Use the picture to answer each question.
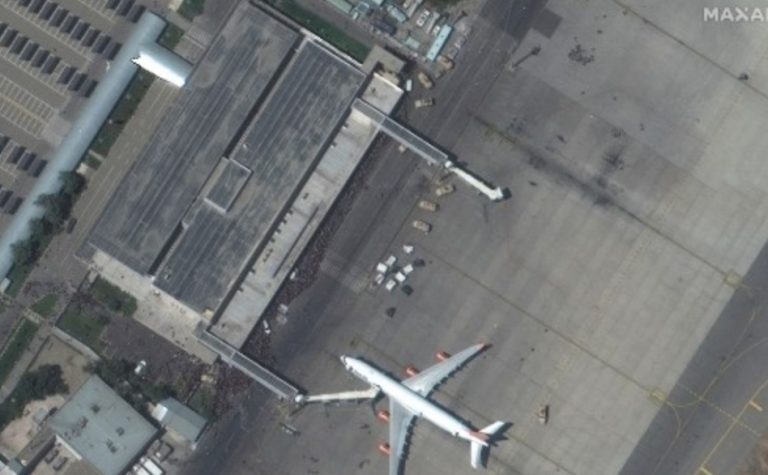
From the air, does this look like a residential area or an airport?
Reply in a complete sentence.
The area seen from above is an airport.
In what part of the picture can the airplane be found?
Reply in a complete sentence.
The airplane is in the bottom part of the image.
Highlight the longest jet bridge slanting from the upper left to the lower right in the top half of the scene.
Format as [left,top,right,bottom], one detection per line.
[353,101,446,169]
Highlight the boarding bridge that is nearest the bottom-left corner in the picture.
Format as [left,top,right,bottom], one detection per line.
[196,326,294,401]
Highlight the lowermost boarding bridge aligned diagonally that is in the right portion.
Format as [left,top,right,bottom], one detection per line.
[443,160,503,201]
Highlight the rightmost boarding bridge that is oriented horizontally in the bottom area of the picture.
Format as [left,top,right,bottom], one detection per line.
[294,386,382,407]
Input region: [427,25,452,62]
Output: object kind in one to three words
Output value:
bus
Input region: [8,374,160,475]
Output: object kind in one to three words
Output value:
building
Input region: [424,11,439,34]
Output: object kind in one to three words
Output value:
vehicle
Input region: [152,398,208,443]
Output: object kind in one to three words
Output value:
shed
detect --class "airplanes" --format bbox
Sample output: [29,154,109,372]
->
[340,345,504,475]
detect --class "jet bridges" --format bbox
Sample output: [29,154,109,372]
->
[443,160,503,201]
[294,386,382,407]
[353,101,446,169]
[196,326,294,401]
